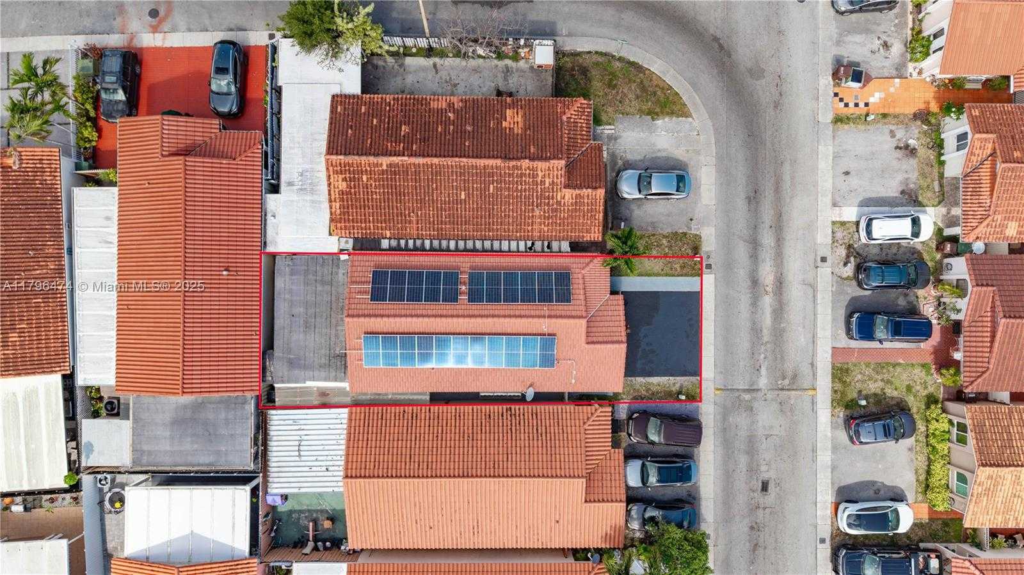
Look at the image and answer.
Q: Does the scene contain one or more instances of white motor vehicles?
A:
Yes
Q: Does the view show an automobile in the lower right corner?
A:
Yes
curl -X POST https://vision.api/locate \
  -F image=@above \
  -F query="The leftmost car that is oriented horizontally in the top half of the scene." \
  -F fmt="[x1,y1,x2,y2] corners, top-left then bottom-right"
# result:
[614,165,690,202]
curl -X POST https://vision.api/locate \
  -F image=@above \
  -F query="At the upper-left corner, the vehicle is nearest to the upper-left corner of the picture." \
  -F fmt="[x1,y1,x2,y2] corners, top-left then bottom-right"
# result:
[99,48,142,122]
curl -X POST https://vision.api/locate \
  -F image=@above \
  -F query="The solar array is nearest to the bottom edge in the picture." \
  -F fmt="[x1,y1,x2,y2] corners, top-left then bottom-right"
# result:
[349,335,557,368]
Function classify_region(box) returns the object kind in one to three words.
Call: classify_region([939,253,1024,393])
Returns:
house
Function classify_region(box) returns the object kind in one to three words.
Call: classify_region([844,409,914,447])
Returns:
car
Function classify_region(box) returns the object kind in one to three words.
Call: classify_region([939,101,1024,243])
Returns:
house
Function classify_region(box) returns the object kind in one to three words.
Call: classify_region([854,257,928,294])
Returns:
car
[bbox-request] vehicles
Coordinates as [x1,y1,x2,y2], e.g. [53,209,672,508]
[831,0,902,18]
[844,409,914,447]
[843,308,932,346]
[626,498,697,534]
[99,48,142,122]
[625,410,702,447]
[854,257,928,294]
[858,210,932,246]
[832,543,940,575]
[626,456,697,492]
[207,40,249,118]
[835,499,910,538]
[614,165,690,202]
